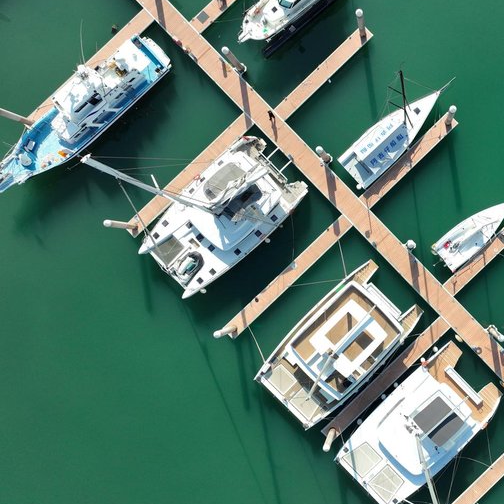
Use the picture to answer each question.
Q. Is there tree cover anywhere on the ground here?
No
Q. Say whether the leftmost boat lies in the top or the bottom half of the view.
top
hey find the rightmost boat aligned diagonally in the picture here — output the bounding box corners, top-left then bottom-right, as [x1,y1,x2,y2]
[431,204,504,272]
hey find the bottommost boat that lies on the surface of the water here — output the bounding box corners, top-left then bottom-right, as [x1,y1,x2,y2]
[337,344,503,504]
